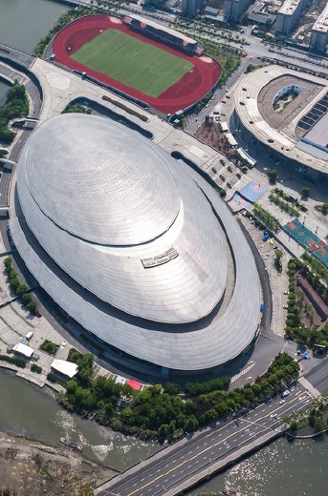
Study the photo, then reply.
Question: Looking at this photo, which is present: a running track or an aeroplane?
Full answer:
This aerial view contains a running track.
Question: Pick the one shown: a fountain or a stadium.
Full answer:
The one in the frame is a stadium.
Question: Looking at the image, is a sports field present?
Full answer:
Yes, you can see a sports field in this photo.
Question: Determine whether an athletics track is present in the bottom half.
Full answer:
No, the scene shows no athletics track in the bottom half.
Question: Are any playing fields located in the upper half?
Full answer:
Yes, a playing field can be seen in the upper half.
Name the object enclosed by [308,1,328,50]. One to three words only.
building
